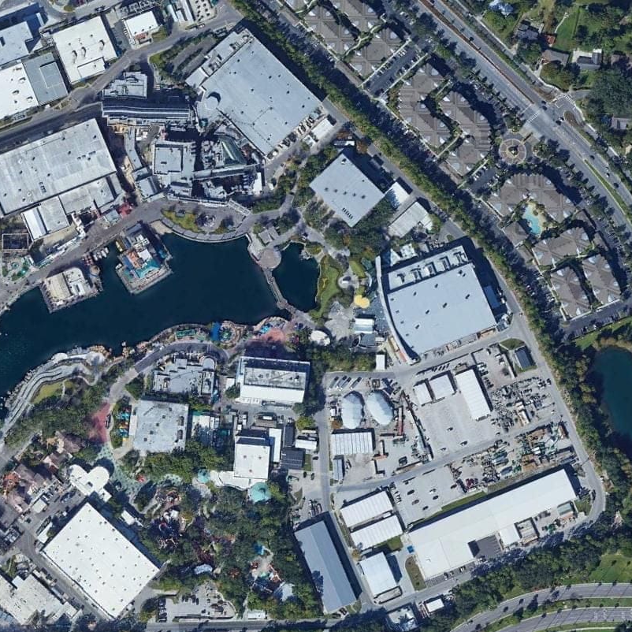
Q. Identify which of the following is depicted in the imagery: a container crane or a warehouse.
warehouse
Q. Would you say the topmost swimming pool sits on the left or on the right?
right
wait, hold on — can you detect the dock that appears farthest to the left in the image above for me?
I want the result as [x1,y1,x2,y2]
[41,267,102,312]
